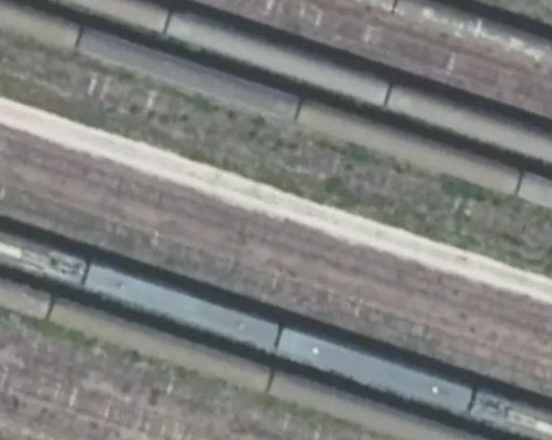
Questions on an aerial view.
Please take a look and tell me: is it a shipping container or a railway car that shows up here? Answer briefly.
railway car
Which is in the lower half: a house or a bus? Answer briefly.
bus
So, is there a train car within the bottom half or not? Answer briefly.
Yes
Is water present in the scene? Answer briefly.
No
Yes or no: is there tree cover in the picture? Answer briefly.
No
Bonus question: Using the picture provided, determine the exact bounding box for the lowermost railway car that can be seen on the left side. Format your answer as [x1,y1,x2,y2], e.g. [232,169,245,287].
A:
[82,261,279,352]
